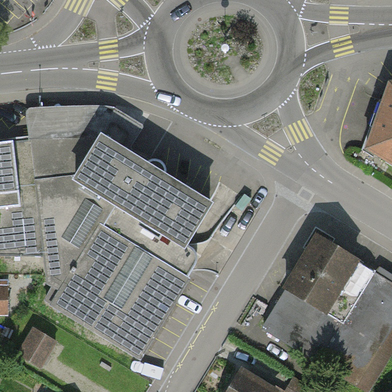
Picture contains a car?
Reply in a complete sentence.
Yes, a car can be made out from above.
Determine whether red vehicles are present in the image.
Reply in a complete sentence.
No, there appears to be no red vehicle in this shot.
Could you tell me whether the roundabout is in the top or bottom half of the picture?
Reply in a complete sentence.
The roundabout is in the top half of the image.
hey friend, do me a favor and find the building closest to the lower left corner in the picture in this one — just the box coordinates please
[22,327,58,368]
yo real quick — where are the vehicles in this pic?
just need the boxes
[252,186,268,208]
[239,206,256,229]
[234,350,256,364]
[221,212,238,236]
[268,342,288,360]
[178,296,202,312]
[170,2,192,19]
[130,361,165,381]
[10,100,29,116]
[158,91,181,105]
